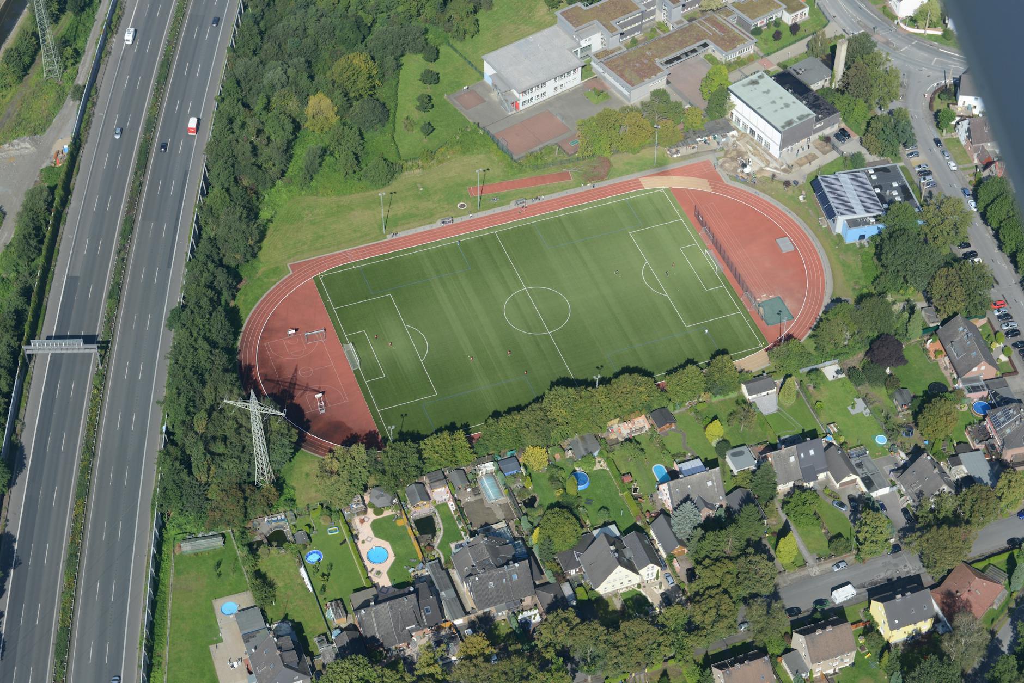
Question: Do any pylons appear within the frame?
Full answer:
Yes, the picture does show a pylon.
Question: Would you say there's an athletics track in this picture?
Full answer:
Yes, you can see an athletics track in this photo.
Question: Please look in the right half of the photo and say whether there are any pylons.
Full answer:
No, there's no pylon to be seen in the right half of the photo.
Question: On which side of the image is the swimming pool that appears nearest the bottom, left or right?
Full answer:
It is on the left.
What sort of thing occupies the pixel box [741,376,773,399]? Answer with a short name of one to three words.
house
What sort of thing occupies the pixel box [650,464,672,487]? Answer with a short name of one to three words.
swimming pool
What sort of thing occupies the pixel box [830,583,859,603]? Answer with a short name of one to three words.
vehicle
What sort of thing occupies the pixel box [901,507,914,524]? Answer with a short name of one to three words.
vehicle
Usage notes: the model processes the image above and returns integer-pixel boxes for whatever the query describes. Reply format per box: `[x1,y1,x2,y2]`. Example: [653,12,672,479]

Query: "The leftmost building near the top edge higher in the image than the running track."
[481,24,600,110]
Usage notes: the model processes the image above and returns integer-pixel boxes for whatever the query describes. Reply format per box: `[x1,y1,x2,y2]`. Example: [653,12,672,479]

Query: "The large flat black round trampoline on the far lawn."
[927,379,949,396]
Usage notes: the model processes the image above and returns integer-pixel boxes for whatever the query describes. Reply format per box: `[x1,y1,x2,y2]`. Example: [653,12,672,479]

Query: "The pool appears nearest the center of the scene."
[569,469,593,490]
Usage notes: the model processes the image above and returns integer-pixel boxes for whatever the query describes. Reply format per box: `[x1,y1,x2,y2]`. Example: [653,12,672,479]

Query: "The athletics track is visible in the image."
[239,160,823,464]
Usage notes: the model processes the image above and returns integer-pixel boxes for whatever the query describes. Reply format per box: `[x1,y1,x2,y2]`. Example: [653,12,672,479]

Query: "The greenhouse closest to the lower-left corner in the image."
[181,534,224,554]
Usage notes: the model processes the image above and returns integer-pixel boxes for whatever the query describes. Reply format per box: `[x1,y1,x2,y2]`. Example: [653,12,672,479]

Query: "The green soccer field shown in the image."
[312,187,769,447]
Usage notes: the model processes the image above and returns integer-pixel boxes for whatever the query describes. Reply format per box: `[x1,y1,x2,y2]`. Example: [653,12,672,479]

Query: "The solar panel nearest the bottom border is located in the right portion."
[678,459,705,476]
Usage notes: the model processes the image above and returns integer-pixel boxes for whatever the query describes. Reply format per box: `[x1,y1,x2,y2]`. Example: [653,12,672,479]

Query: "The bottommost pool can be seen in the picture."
[217,598,241,618]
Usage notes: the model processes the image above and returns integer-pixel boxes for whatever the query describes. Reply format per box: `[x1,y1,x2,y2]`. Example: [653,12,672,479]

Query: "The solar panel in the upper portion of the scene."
[810,177,837,220]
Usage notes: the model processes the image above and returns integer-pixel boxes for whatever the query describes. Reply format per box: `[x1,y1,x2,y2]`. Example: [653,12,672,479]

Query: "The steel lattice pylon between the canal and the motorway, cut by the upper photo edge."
[30,0,64,87]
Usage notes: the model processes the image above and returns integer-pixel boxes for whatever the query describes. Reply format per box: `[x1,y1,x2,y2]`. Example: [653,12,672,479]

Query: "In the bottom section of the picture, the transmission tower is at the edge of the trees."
[221,392,288,494]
